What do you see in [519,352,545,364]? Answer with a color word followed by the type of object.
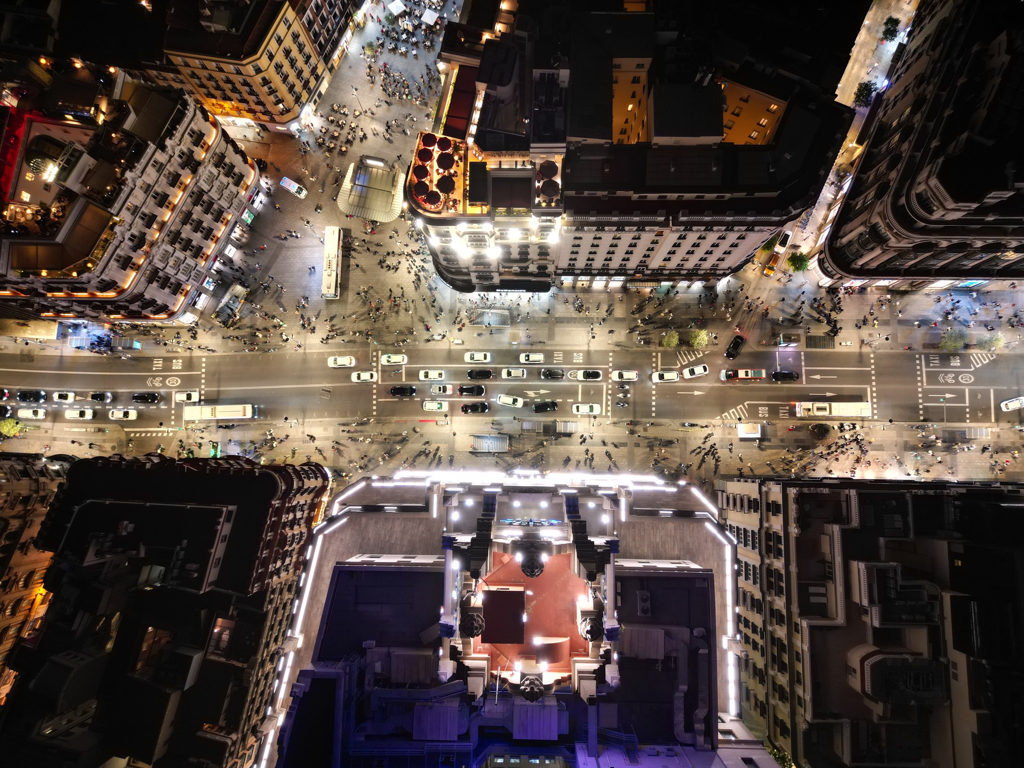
white vehicle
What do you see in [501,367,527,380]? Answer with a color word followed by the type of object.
white vehicle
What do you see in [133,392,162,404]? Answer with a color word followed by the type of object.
black vehicle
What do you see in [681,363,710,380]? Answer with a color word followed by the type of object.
white car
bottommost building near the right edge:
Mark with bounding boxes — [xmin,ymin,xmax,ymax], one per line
[712,470,1024,768]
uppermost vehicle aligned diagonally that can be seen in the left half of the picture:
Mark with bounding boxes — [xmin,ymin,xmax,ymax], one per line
[280,177,311,203]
